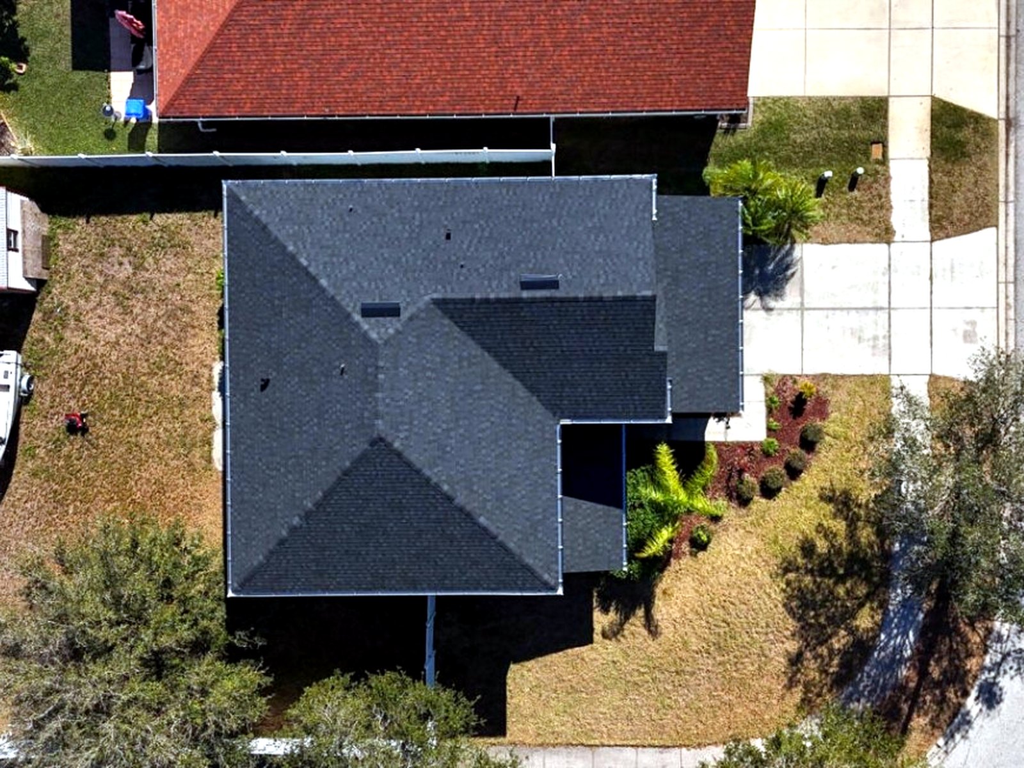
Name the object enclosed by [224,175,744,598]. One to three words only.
house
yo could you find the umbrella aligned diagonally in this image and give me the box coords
[110,14,155,48]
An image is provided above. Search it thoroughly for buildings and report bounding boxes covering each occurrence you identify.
[154,0,758,131]
[0,186,38,296]
[224,175,744,598]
